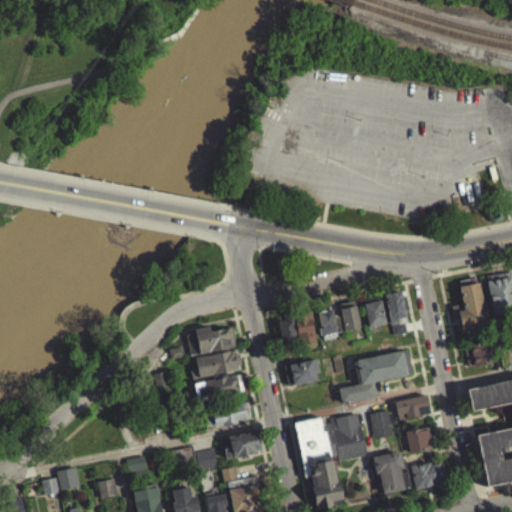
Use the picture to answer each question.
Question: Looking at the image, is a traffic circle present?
No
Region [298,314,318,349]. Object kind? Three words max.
house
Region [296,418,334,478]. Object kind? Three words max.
building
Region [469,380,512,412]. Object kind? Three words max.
building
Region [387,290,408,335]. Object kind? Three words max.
house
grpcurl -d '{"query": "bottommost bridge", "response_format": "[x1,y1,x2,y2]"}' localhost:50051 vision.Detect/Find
[0,162,226,243]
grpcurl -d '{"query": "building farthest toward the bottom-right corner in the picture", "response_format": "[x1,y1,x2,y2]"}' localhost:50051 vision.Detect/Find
[478,428,512,486]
